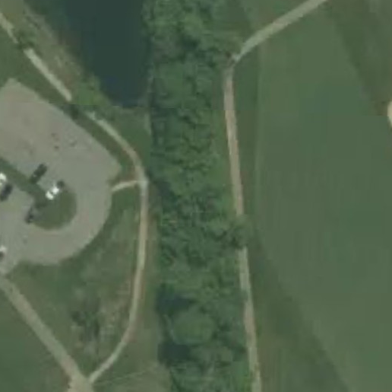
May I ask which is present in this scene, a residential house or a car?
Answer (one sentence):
There is a car in the scene.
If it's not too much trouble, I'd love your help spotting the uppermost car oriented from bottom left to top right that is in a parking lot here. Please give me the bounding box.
[30,164,46,184]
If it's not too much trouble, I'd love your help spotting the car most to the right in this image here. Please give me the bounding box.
[45,181,63,201]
